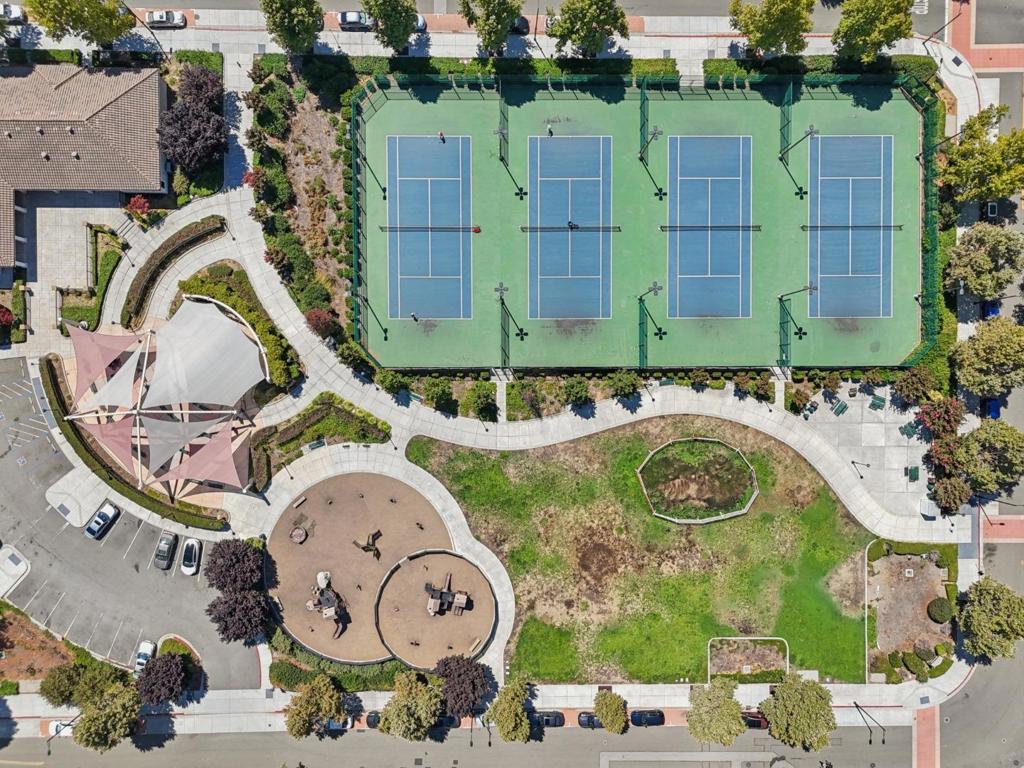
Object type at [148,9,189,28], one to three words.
car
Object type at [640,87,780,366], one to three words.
tennis court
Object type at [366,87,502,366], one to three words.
tennis court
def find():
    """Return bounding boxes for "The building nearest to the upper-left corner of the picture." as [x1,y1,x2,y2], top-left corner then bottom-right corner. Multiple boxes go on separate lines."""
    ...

[0,60,167,268]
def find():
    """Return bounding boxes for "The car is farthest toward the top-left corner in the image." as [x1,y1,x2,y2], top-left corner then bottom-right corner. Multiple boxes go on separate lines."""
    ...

[0,3,30,24]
